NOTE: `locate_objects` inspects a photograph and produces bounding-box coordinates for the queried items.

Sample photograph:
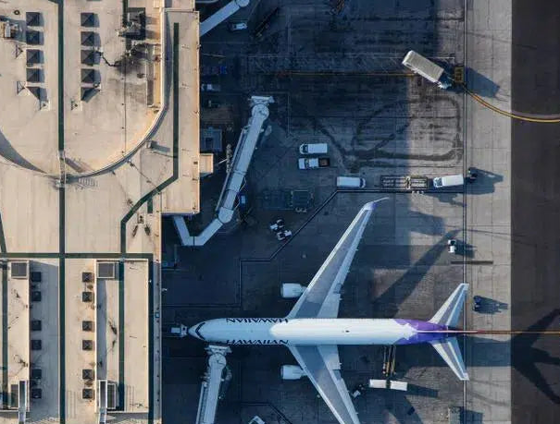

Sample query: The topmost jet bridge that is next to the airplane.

[167,93,272,247]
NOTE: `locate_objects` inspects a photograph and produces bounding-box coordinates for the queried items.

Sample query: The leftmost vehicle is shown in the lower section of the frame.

[170,324,188,337]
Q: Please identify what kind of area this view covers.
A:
airport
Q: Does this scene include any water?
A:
No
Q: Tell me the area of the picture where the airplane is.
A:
bottom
